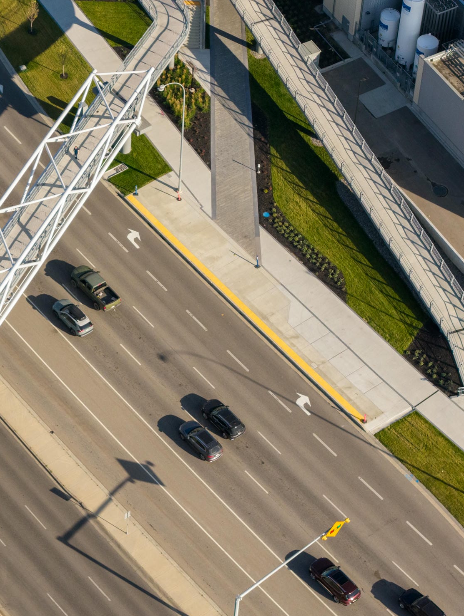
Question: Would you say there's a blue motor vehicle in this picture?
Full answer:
No, the scene contains no blue motor vehicle.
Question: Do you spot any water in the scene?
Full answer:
No, there's no water in this view.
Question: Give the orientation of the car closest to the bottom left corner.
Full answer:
The car closest to the bottom left corner is oriented at an angle.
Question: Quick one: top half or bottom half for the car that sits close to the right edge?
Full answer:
It is in the bottom half that the car that sits close to the right edge appears.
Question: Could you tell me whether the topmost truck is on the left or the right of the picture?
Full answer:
It is on the left.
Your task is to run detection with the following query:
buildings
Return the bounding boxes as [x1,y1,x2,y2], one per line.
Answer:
[411,35,464,163]
[323,0,405,37]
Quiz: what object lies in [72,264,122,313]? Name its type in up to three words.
truck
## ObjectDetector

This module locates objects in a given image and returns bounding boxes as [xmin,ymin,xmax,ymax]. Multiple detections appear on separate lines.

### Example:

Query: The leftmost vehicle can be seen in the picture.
[52,298,94,340]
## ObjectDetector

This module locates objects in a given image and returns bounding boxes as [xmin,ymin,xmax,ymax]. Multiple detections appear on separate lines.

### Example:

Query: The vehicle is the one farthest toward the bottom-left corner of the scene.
[179,419,224,468]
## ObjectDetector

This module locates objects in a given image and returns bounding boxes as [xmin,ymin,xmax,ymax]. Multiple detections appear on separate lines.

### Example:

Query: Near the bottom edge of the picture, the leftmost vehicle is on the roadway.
[309,556,363,612]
